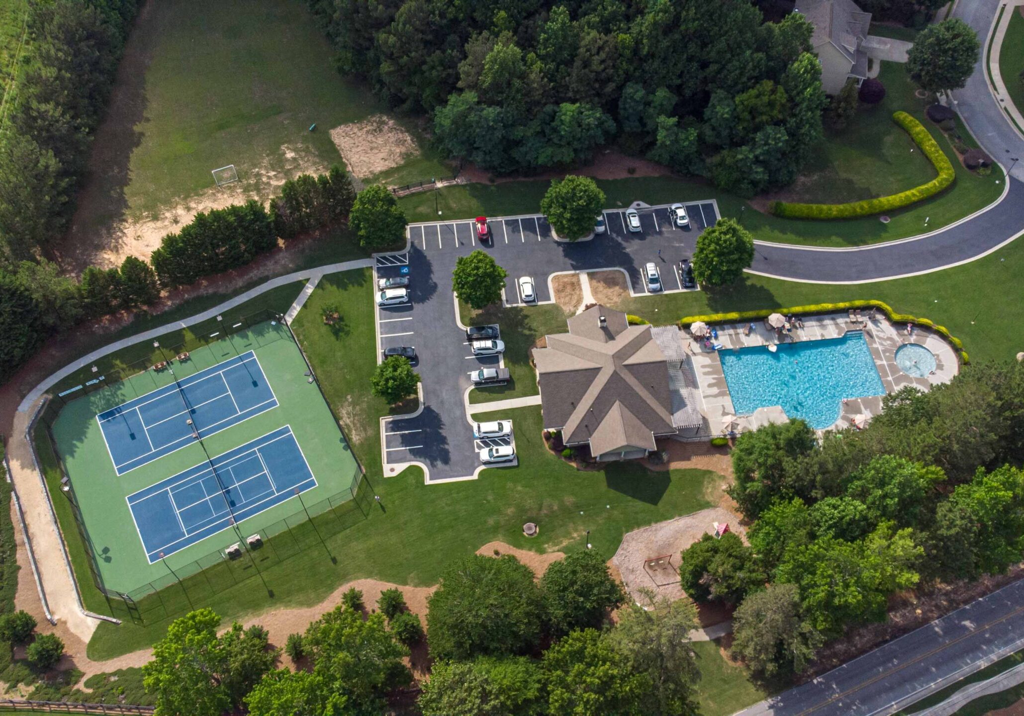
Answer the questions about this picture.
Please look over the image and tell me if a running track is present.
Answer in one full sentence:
No, the frame has no running track in it.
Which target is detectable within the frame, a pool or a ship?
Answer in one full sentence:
This aerial view contains a pool.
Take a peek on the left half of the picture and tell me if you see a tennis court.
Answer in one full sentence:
Yes, you'll find a tennis court on the left half of the picture.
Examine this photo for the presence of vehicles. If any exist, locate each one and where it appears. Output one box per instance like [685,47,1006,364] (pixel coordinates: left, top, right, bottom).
[378,275,409,290]
[466,325,498,341]
[472,339,504,355]
[645,263,661,290]
[669,204,688,227]
[519,276,535,302]
[679,261,695,286]
[626,209,642,232]
[481,446,515,463]
[471,368,511,385]
[475,217,490,241]
[476,420,510,438]
[383,344,415,359]
[376,287,409,305]
[594,218,606,233]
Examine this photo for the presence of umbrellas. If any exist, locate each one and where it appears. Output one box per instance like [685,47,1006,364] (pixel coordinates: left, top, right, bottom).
[768,316,787,333]
[855,409,875,428]
[690,323,709,341]
[721,415,741,433]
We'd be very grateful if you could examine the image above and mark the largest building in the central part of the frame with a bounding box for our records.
[532,304,678,464]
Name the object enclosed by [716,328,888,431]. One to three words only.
swimming pool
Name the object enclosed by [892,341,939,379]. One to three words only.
swimming pool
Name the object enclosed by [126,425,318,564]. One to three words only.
tennis court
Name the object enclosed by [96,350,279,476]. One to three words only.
tennis court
